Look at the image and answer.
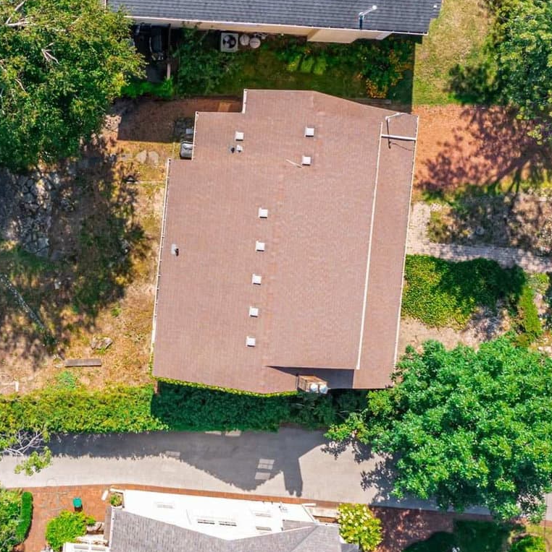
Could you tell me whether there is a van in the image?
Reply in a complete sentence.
No, there is no van in the image.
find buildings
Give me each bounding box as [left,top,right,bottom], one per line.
[150,90,421,394]
[60,495,359,552]
[103,0,442,52]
